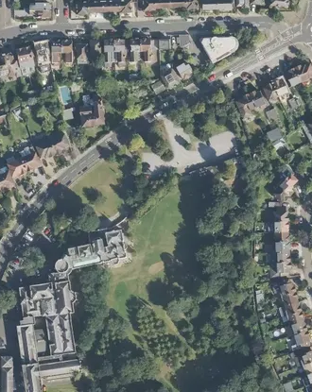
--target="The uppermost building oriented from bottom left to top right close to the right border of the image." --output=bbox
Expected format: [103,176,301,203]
[289,53,312,85]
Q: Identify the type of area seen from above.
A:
residential area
